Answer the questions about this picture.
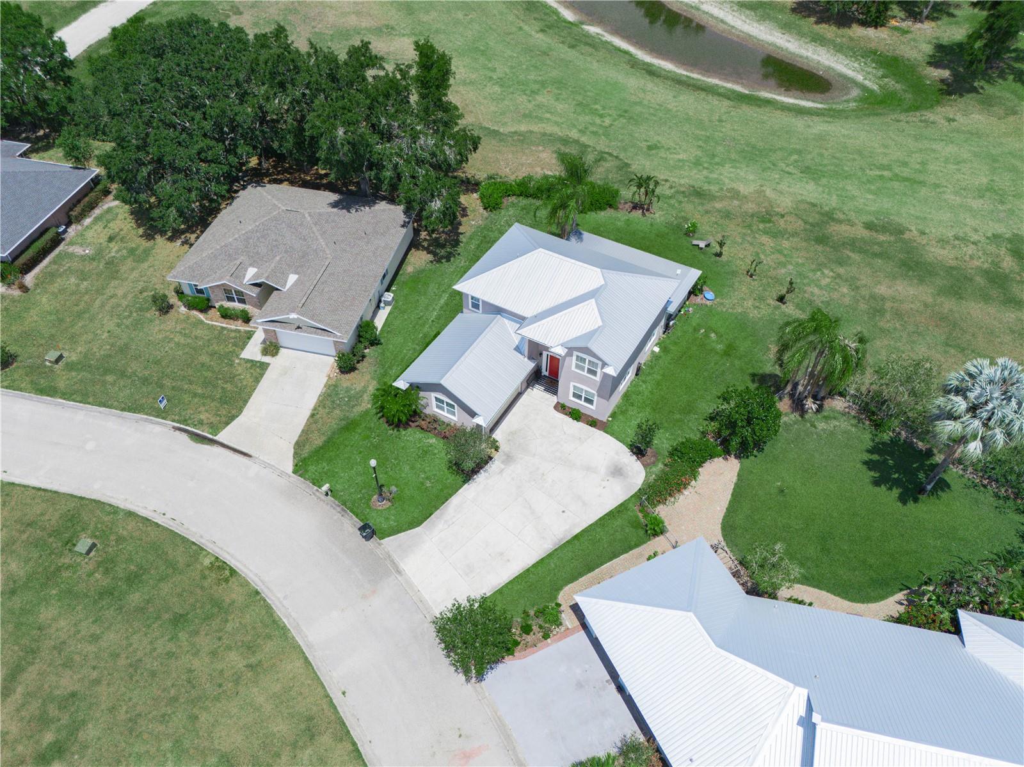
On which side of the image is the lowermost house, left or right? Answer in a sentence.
The lowermost house appears in the right half of the scene.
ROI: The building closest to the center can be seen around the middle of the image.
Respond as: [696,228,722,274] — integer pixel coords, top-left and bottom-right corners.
[390,222,700,442]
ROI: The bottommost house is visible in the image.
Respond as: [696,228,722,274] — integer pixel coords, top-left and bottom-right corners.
[573,537,1024,767]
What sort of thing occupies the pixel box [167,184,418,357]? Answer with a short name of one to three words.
house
